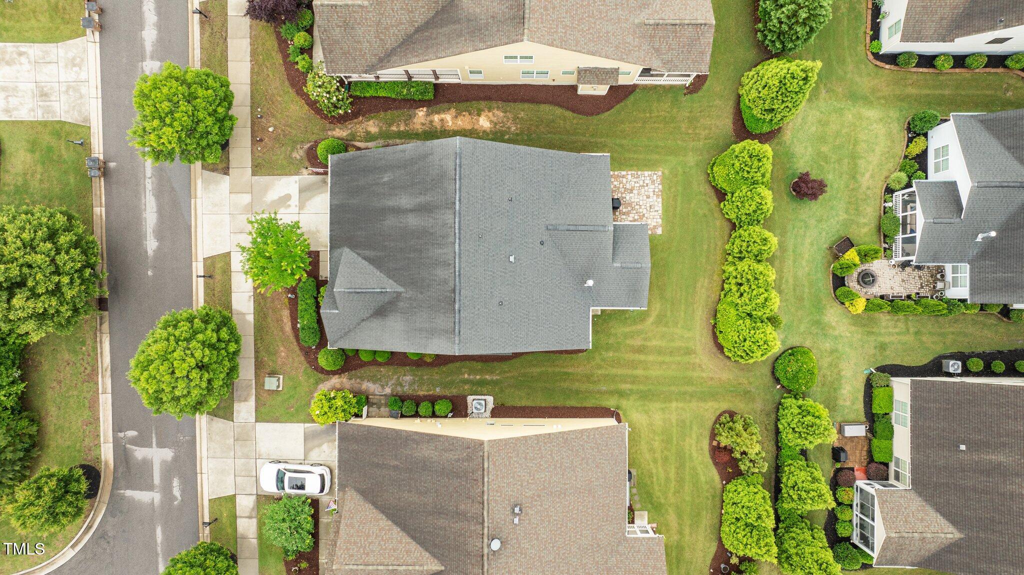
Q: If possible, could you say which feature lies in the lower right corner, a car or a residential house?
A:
residential house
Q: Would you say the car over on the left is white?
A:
Yes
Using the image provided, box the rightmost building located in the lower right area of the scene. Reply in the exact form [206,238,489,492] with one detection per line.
[856,377,1024,575]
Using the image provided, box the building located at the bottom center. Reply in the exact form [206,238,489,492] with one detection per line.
[325,410,666,575]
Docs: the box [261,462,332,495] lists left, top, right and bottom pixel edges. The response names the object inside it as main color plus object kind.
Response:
white car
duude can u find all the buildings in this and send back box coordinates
[320,137,650,355]
[856,377,1024,575]
[894,109,1024,308]
[313,0,715,95]
[325,410,666,575]
[880,0,1024,54]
